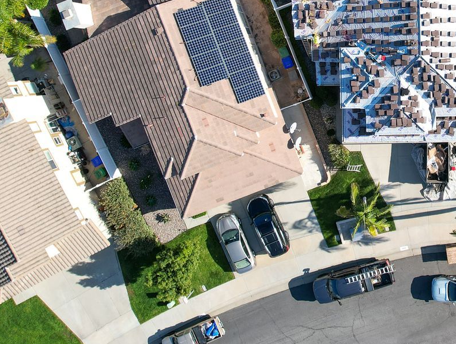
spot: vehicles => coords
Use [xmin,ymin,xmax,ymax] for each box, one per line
[431,273,456,307]
[216,210,256,274]
[250,193,290,259]
[162,312,230,344]
[312,256,399,302]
